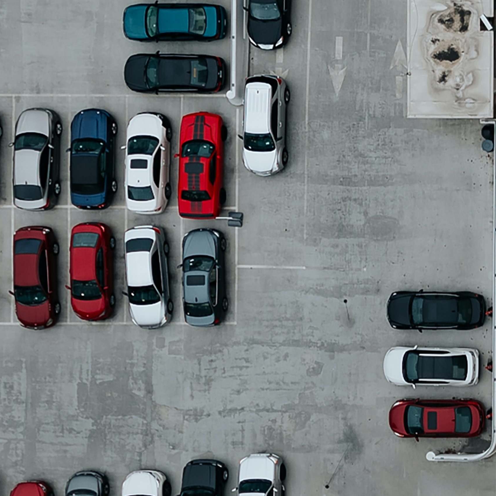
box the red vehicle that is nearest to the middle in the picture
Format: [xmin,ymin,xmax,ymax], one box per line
[172,112,227,217]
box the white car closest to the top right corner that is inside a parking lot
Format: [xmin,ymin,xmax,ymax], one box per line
[237,74,290,177]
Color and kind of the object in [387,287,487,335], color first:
black car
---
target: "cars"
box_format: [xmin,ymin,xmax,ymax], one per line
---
[118,224,173,329]
[66,470,109,496]
[383,342,481,393]
[63,222,115,322]
[242,0,291,51]
[175,227,228,327]
[122,469,172,496]
[229,453,286,496]
[6,107,62,212]
[172,112,227,217]
[7,226,61,330]
[118,112,172,214]
[123,0,227,43]
[65,108,118,209]
[125,47,226,96]
[237,74,290,177]
[389,395,485,443]
[387,287,487,335]
[173,458,228,496]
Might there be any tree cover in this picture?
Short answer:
No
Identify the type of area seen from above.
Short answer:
parking lot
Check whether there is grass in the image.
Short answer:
No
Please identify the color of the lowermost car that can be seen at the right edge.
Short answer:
red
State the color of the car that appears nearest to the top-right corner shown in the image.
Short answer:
black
